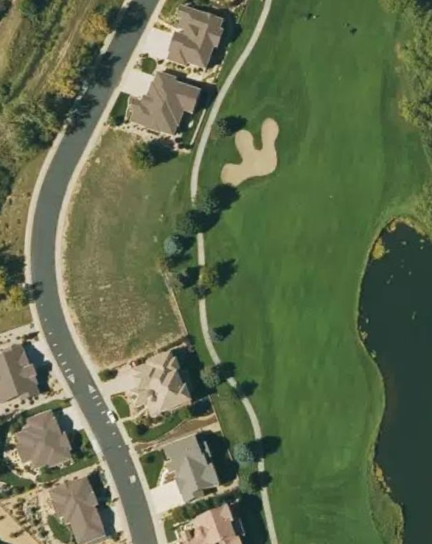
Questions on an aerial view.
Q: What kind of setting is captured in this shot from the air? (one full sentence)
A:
This image shows a golf course.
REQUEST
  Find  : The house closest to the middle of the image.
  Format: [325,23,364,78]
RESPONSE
[128,356,194,420]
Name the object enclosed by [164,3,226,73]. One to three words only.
house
